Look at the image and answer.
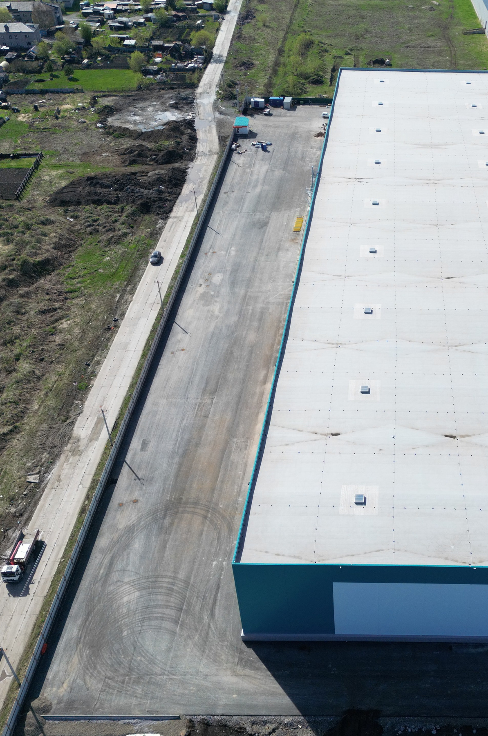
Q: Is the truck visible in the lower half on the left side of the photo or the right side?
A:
left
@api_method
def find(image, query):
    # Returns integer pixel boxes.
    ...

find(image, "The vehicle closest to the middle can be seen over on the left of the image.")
[150,245,165,261]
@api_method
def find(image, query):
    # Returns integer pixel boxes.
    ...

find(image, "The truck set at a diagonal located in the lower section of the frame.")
[0,517,48,579]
